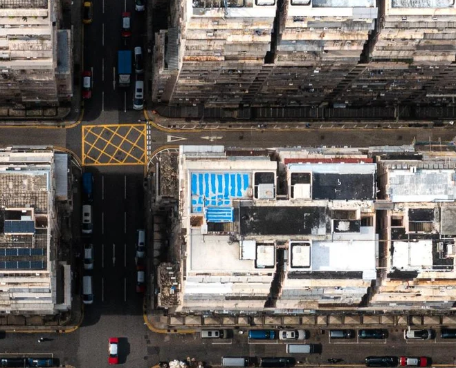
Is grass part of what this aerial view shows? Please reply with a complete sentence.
No, the scene doesn't show any grass.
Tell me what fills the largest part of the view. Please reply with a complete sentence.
The largest share of the image is taken up by buildings.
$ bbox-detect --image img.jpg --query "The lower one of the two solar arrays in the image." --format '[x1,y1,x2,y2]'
[0,248,43,268]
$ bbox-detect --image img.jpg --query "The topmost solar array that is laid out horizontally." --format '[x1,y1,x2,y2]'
[4,220,35,234]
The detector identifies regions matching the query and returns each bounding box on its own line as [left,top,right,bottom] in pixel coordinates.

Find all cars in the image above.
[399,355,427,367]
[81,205,93,233]
[28,356,53,368]
[260,356,289,368]
[286,343,313,354]
[403,328,431,340]
[134,0,146,12]
[120,12,132,38]
[278,329,305,341]
[132,81,145,110]
[222,356,249,368]
[201,328,227,340]
[81,71,93,99]
[107,338,119,364]
[82,276,94,303]
[82,172,93,199]
[133,46,145,74]
[327,328,350,340]
[358,328,385,340]
[82,244,94,269]
[135,230,147,257]
[365,355,395,367]
[247,328,276,340]
[0,356,25,368]
[135,265,146,292]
